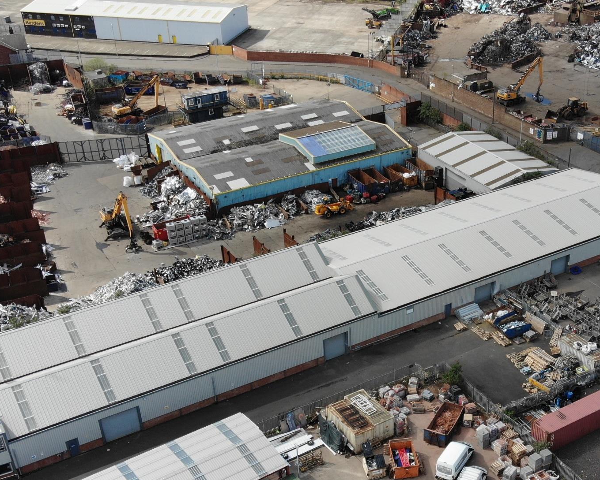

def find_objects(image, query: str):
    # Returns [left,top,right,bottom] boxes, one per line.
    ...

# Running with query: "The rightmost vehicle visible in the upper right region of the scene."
[550,96,589,122]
